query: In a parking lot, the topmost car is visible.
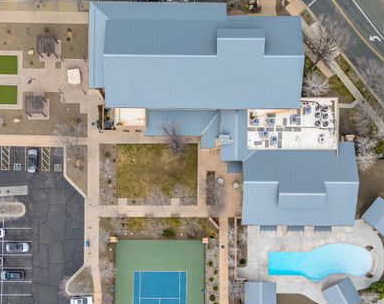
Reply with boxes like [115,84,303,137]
[26,149,38,173]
